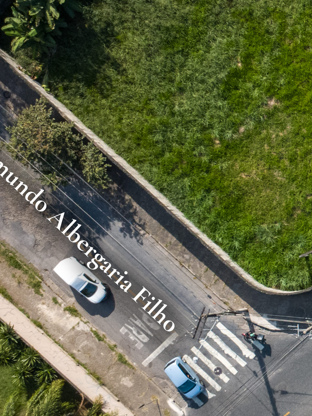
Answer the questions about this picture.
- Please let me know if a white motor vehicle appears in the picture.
Yes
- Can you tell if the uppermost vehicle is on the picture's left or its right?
left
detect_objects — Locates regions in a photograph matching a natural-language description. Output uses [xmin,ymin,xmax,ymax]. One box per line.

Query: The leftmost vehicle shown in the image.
[53,257,108,301]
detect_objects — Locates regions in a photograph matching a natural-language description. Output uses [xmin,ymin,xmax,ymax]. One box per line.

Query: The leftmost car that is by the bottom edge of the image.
[165,357,205,398]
